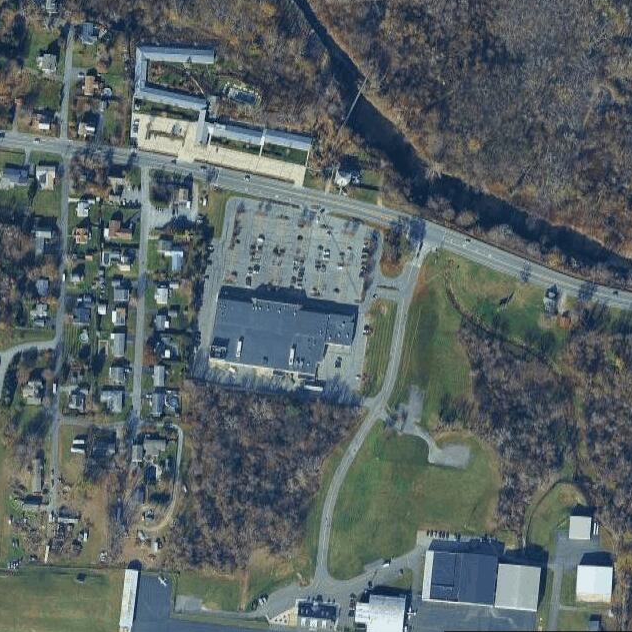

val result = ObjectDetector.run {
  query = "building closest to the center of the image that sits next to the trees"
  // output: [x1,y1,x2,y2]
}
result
[210,298,359,380]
